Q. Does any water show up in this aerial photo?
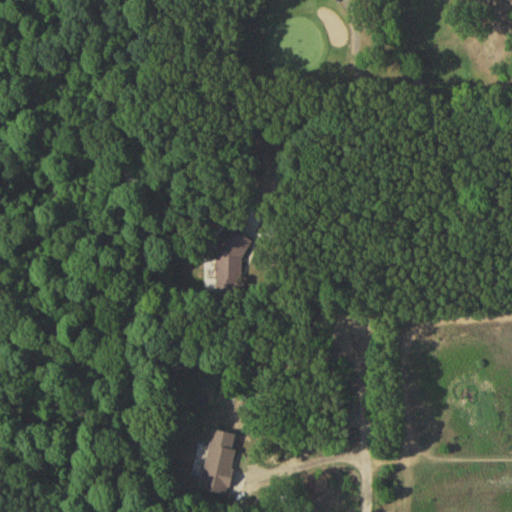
No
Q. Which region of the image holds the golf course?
top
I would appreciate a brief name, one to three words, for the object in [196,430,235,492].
house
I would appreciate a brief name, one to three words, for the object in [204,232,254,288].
house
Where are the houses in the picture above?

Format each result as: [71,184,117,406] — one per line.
[196,430,235,492]
[204,232,254,288]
